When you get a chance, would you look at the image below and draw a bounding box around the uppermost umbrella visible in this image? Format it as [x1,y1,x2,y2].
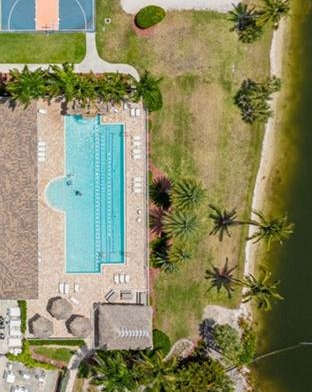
[49,297,73,321]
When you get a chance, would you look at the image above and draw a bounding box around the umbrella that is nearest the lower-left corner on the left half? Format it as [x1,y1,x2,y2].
[29,315,54,339]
